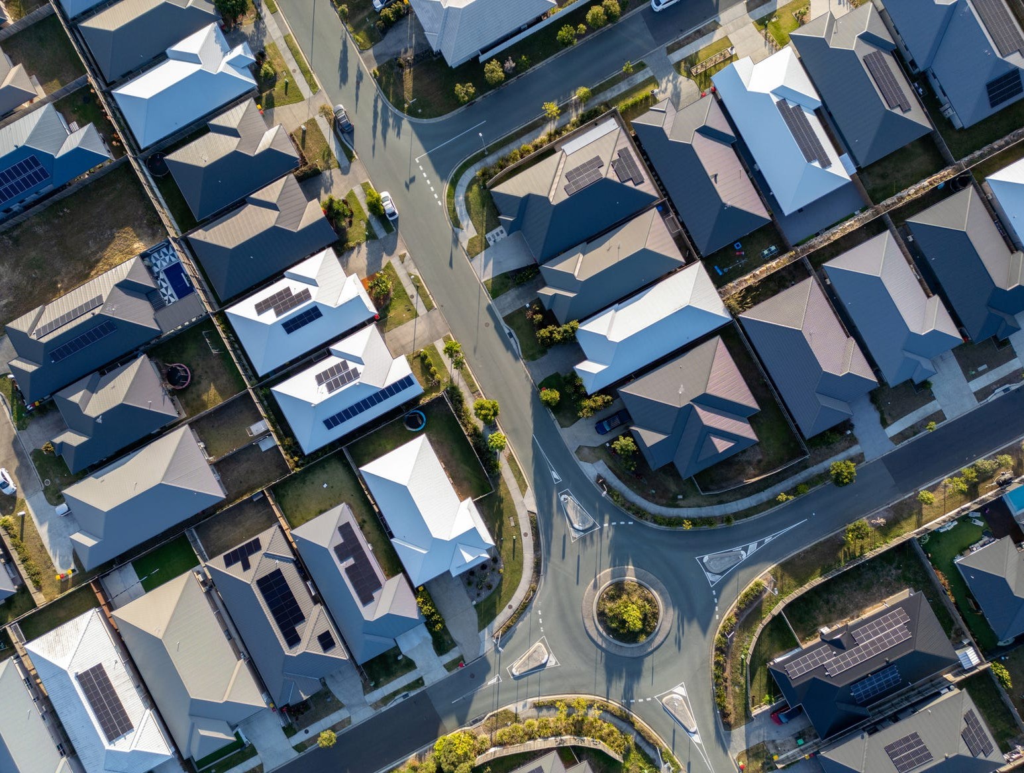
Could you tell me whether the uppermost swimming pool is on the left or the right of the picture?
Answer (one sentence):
The uppermost swimming pool appears in the left half of the scene.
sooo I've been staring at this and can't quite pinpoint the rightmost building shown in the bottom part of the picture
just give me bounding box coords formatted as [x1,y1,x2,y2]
[947,531,1024,644]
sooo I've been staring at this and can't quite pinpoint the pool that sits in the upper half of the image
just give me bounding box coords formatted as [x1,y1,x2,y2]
[161,260,193,300]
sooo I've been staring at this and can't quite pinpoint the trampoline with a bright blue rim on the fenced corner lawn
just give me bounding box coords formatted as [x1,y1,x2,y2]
[403,410,426,433]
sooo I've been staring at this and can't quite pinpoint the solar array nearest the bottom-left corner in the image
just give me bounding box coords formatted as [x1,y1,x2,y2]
[72,660,137,746]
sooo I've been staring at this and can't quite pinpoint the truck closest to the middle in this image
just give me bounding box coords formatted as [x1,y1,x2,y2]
[594,410,632,434]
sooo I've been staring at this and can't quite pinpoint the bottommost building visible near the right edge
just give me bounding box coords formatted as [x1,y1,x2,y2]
[816,688,1004,773]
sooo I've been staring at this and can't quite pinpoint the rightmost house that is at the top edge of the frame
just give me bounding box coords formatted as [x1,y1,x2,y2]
[872,0,1024,130]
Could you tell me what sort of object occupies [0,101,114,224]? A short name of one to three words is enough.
house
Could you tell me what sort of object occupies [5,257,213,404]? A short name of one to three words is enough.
house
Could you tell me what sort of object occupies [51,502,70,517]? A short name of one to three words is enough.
car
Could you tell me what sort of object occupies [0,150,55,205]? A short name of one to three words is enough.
solar array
